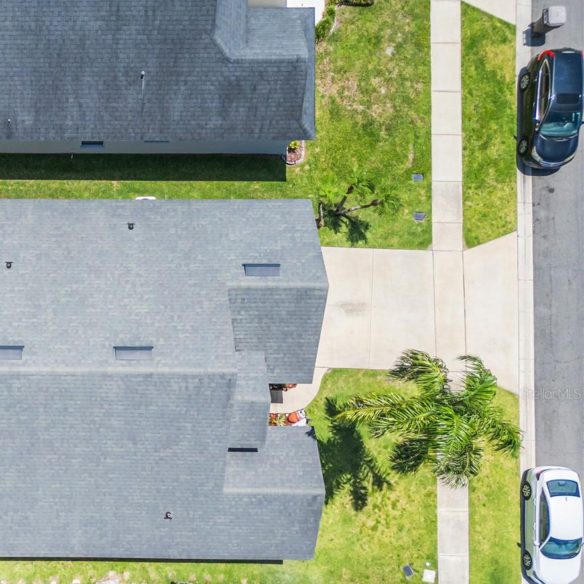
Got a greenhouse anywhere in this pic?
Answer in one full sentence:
No, there isn't any greenhouse down there.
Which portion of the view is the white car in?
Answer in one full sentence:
The white car appears toward the bottom right of the photo.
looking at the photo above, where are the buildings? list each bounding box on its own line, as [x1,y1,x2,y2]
[0,198,332,559]
[0,0,317,154]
